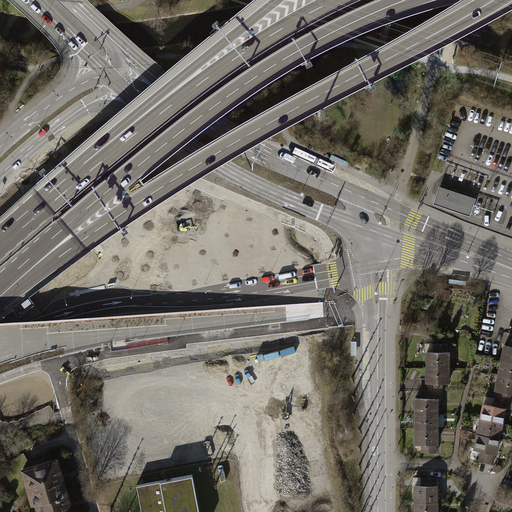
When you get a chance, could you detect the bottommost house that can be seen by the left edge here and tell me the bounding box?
[18,458,72,512]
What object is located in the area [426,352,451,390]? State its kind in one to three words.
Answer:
house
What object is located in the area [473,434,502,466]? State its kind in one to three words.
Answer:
house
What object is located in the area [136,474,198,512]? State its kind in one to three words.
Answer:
building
